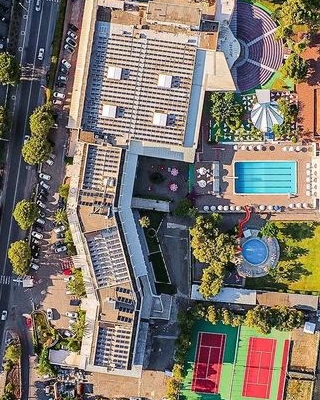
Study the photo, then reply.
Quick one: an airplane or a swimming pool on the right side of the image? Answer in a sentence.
What appears on the right side of the image is a swimming pool.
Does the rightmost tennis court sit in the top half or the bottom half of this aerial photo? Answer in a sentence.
The rightmost tennis court sits in the bottom half of the picture.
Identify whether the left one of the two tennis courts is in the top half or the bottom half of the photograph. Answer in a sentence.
It is in the bottom half that the left one of the two tennis courts appears.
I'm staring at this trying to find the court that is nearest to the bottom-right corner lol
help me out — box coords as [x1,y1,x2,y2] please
[242,337,277,399]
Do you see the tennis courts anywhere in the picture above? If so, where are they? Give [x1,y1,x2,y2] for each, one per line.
[192,332,226,394]
[242,337,277,399]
